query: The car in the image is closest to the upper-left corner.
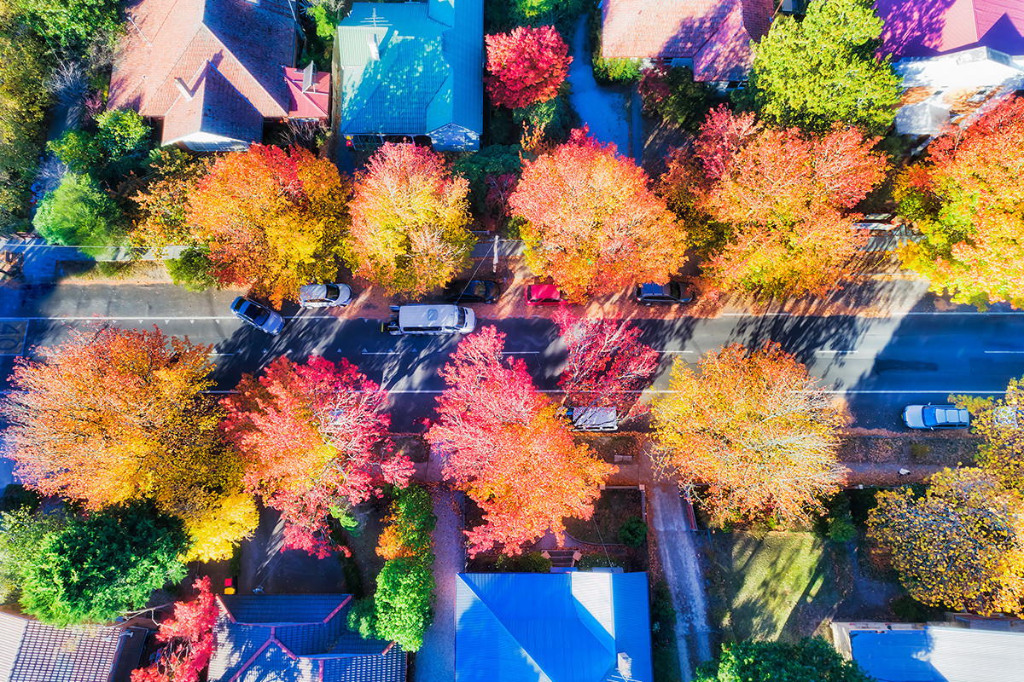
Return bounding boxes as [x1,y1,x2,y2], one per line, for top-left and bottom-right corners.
[227,289,288,339]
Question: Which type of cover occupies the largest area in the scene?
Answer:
trees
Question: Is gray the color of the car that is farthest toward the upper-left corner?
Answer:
No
